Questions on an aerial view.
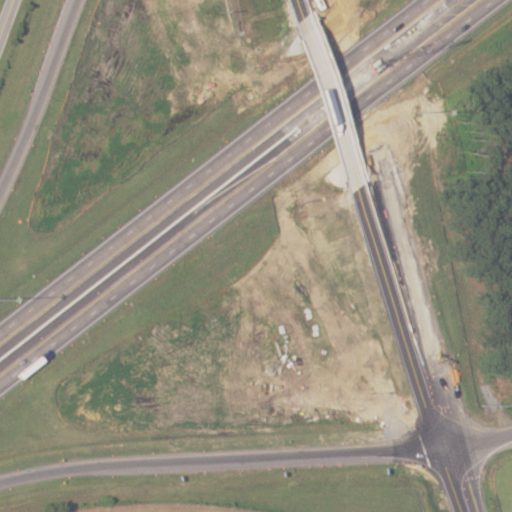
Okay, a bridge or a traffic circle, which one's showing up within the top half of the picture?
bridge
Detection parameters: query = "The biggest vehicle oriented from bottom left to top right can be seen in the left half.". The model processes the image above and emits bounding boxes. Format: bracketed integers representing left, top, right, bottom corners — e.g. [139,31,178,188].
[19,352,56,380]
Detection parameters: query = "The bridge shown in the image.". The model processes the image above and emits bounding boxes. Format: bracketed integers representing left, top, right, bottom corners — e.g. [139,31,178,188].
[296,10,372,192]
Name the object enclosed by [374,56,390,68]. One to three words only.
vehicle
